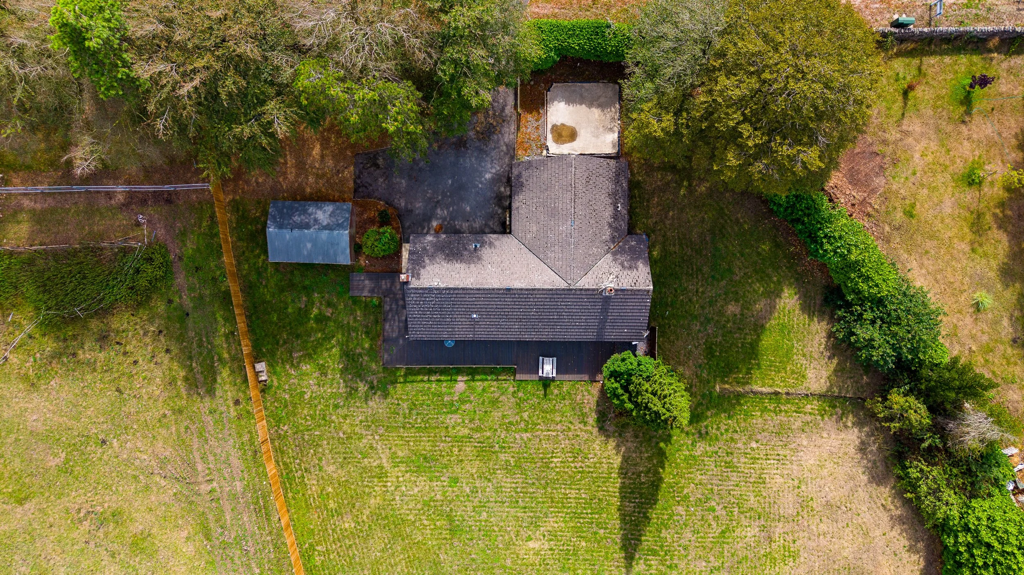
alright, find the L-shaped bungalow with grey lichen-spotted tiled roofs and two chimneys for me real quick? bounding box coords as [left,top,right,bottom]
[399,154,654,342]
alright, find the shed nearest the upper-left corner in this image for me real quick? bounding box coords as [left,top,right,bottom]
[266,200,358,265]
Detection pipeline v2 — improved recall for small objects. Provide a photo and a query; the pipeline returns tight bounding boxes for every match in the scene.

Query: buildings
[266,200,358,265]
[399,154,654,342]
